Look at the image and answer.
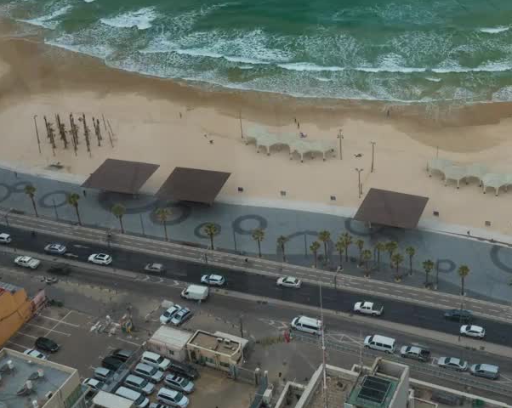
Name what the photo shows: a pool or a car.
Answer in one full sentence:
This aerial view contains a car.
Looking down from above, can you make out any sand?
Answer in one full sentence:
Yes, sand shows up in the scene.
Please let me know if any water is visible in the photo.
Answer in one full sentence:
Yes, the picture does contain water.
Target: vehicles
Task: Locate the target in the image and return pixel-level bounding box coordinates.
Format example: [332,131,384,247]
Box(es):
[164,372,193,392]
[439,357,465,372]
[460,324,484,338]
[35,336,58,353]
[161,306,183,321]
[291,314,322,333]
[402,346,429,361]
[0,233,12,243]
[156,386,187,407]
[144,264,164,273]
[181,282,209,300]
[364,333,395,351]
[472,363,497,379]
[14,256,40,269]
[102,352,124,368]
[445,308,471,322]
[354,302,382,316]
[168,362,195,378]
[276,277,301,289]
[171,309,192,325]
[122,373,153,393]
[202,274,224,286]
[23,348,49,360]
[130,361,159,381]
[116,385,147,407]
[89,254,112,266]
[140,351,170,370]
[93,363,115,378]
[86,377,113,392]
[45,243,67,255]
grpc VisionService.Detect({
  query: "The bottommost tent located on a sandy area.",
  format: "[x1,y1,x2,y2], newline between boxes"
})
[424,162,512,204]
